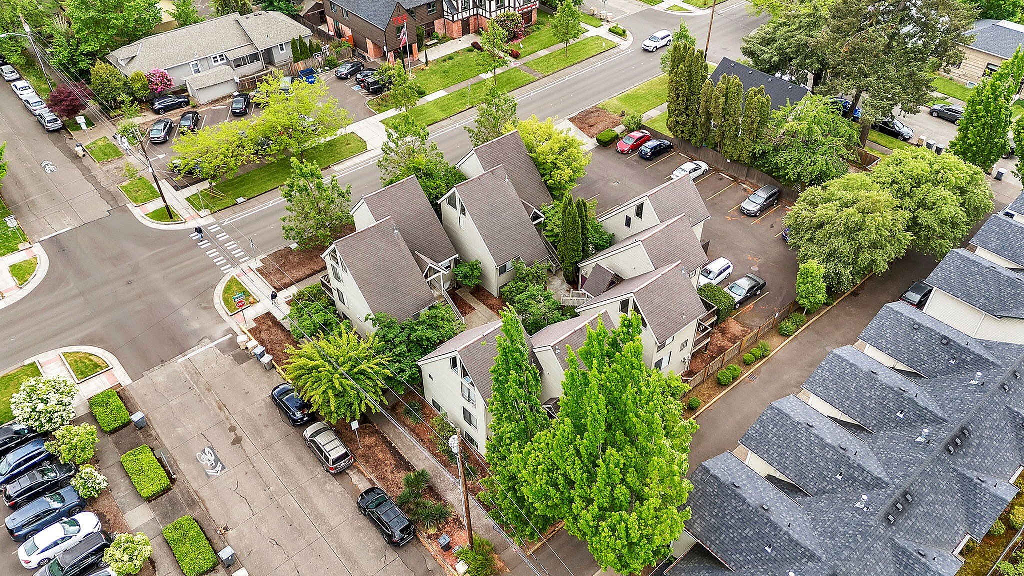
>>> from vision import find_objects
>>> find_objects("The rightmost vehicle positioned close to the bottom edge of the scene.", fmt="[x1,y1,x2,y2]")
[357,488,416,549]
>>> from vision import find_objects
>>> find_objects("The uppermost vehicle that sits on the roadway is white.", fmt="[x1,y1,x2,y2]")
[642,29,672,52]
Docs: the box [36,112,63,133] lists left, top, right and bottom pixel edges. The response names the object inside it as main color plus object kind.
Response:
gray car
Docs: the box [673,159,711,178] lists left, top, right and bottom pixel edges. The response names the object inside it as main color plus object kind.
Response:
white car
